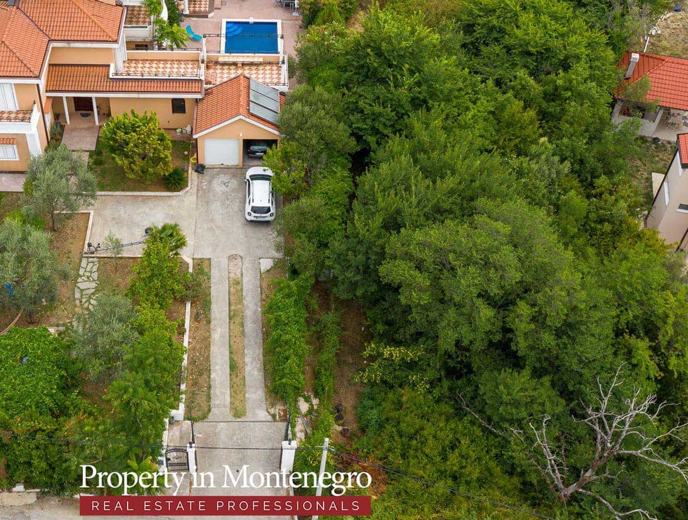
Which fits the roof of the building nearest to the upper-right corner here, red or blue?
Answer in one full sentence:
From above, the roof of the building nearest to the upper-right corner appears red.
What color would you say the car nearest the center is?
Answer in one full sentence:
In this view, the car nearest the center is white.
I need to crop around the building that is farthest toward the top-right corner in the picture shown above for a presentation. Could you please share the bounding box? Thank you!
[618,50,688,142]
